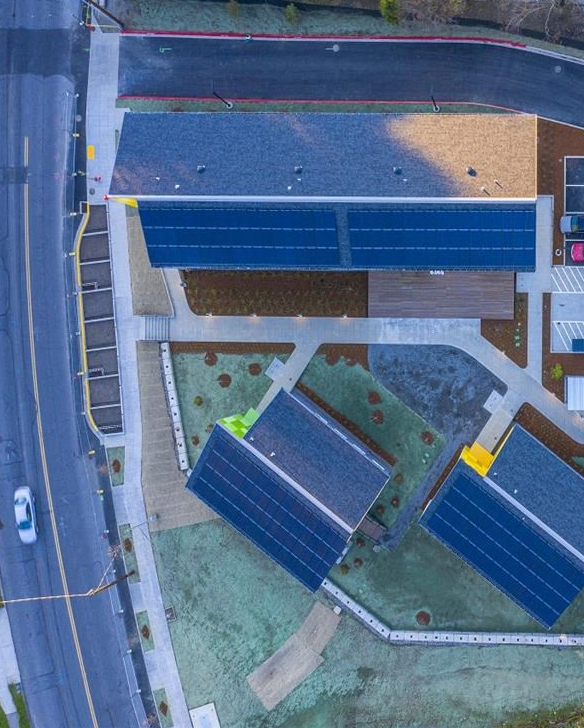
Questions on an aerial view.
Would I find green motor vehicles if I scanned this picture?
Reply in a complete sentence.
No, I can't see a single green motor vehicle in this photo.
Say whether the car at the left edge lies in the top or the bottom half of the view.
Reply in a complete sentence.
It is in the bottom half that the car at the left edge appears.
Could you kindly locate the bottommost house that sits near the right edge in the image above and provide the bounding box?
[418,423,584,629]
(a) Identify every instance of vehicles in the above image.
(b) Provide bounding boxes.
[561,211,584,234]
[6,491,35,543]
[572,242,584,261]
